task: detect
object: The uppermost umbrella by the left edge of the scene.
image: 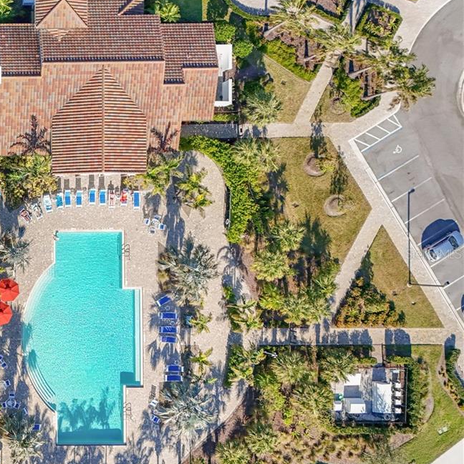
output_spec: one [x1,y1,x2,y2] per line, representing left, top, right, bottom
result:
[0,278,19,302]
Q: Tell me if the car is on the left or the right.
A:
right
